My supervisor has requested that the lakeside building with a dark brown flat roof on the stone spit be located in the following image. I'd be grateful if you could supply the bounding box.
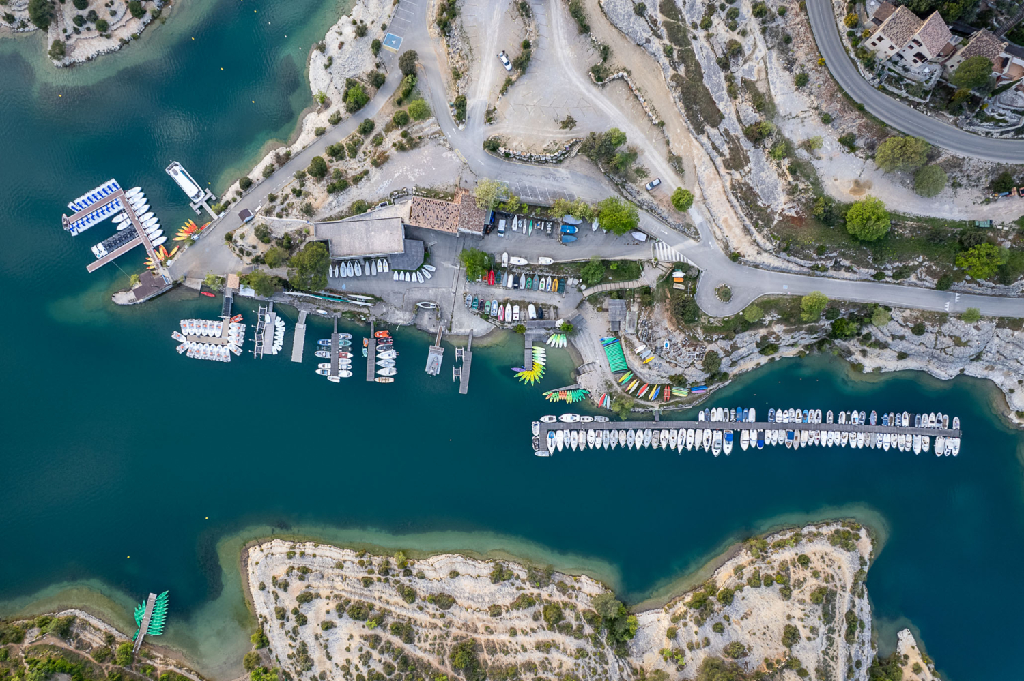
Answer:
[133,270,178,301]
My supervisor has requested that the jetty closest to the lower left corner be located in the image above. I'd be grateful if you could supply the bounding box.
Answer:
[132,593,157,655]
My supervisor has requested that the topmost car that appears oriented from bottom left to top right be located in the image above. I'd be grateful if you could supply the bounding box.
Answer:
[644,176,662,192]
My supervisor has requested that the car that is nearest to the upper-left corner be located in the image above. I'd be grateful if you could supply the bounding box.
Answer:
[497,49,514,72]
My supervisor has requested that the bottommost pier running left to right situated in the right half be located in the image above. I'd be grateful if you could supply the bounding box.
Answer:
[539,409,961,451]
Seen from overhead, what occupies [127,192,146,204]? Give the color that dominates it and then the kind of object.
white boat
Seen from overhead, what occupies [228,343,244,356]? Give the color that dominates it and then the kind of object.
white boat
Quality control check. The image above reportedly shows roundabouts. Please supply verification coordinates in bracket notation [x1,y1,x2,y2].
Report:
[696,266,751,316]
